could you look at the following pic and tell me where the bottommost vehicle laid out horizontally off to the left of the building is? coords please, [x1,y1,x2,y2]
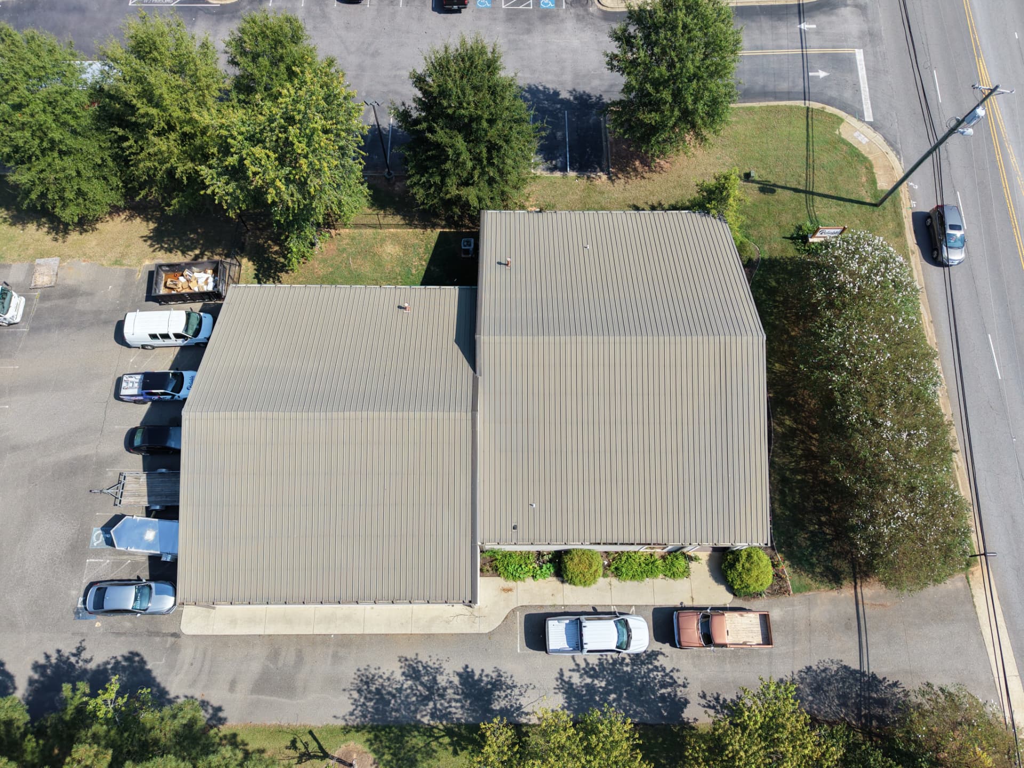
[82,577,176,618]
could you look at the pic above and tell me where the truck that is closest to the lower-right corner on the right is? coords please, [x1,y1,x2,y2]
[670,606,776,653]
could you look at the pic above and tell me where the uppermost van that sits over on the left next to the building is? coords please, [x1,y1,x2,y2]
[117,307,217,350]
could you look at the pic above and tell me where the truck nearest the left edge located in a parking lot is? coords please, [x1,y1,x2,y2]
[0,276,32,324]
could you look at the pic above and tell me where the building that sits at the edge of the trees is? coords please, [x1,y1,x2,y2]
[176,210,770,614]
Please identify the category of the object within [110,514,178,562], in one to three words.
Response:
trailer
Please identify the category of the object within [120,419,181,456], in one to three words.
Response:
car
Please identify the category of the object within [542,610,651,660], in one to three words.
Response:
truck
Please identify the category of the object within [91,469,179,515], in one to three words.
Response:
trailer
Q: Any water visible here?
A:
No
